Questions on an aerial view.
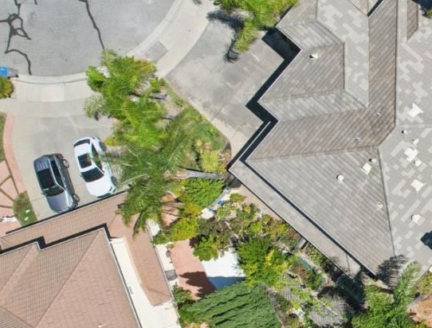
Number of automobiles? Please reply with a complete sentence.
In total, 2 automobiles can be seen.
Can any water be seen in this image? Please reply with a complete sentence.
No, water can't be seen anywhere here.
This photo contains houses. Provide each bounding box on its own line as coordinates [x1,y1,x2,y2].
[228,0,432,289]
[0,188,192,328]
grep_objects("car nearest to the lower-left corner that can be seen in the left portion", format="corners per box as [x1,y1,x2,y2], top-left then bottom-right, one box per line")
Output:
[31,152,77,215]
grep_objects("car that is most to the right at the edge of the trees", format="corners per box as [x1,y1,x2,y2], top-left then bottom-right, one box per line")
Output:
[73,137,115,200]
